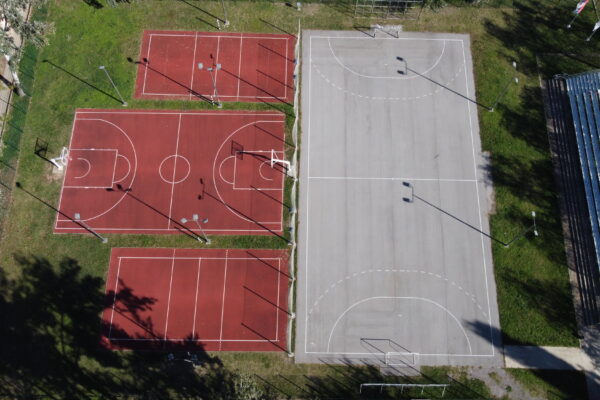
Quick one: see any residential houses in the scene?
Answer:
No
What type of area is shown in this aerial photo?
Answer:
sports ground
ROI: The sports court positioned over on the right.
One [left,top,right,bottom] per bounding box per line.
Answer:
[295,30,506,377]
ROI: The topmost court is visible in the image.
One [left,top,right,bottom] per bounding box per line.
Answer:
[134,31,296,102]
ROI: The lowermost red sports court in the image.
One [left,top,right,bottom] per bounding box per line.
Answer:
[98,247,291,352]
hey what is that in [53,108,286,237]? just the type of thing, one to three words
basketball court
